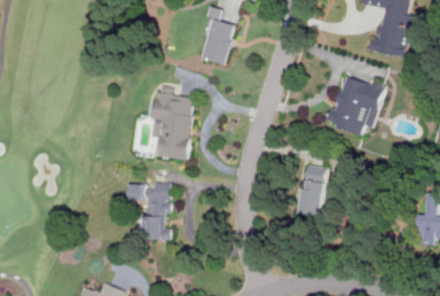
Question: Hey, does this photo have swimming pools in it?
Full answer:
Yes, this view includes a swimming pool.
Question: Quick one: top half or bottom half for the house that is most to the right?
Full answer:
You can find the house that is most to the right in the bottom half.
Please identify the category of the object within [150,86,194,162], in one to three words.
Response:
house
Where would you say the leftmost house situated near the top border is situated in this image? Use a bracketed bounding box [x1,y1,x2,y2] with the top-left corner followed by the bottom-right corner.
[201,6,236,65]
